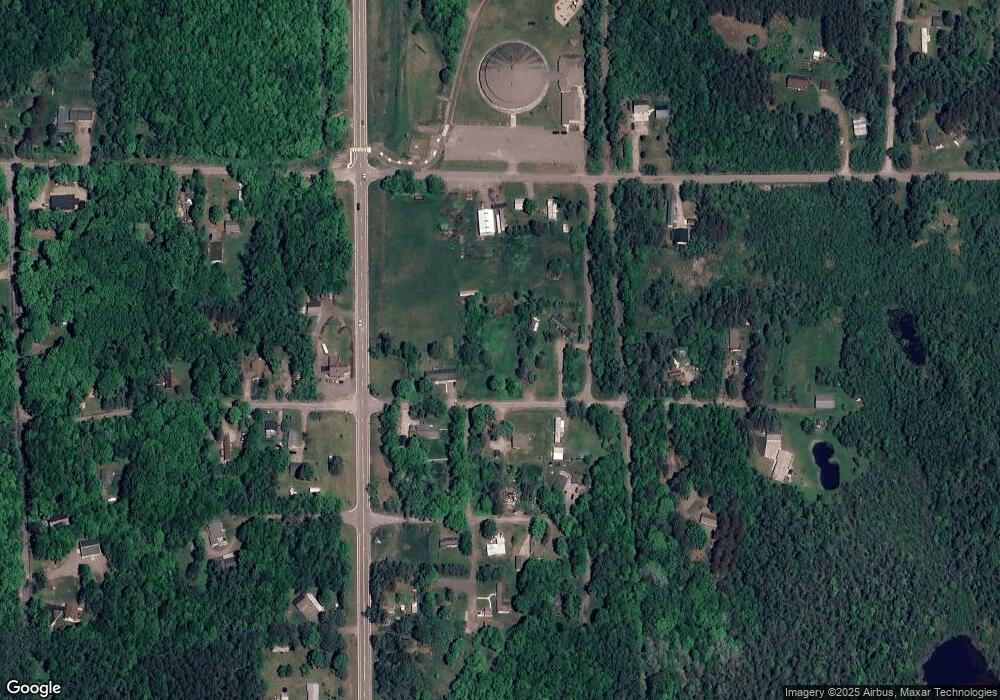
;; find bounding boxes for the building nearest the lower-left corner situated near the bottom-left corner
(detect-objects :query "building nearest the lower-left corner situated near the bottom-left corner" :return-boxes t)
[62,602,83,622]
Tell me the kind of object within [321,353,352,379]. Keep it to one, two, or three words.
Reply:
building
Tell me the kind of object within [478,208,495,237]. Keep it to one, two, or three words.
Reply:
barn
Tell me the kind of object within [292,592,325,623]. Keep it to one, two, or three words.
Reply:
house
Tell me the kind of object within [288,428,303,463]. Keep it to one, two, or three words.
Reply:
house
